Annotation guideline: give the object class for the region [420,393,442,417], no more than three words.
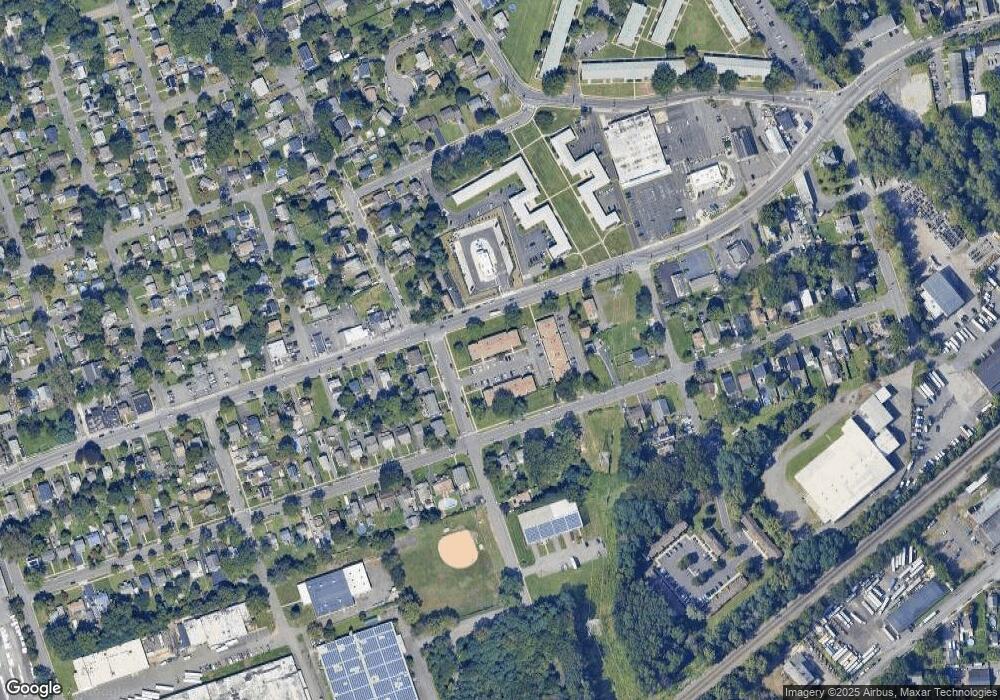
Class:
house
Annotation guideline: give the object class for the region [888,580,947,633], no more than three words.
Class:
shed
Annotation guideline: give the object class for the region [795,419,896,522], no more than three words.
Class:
building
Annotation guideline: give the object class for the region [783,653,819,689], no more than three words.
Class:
shed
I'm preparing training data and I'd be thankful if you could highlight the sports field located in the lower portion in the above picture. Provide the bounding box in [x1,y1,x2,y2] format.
[438,528,482,570]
